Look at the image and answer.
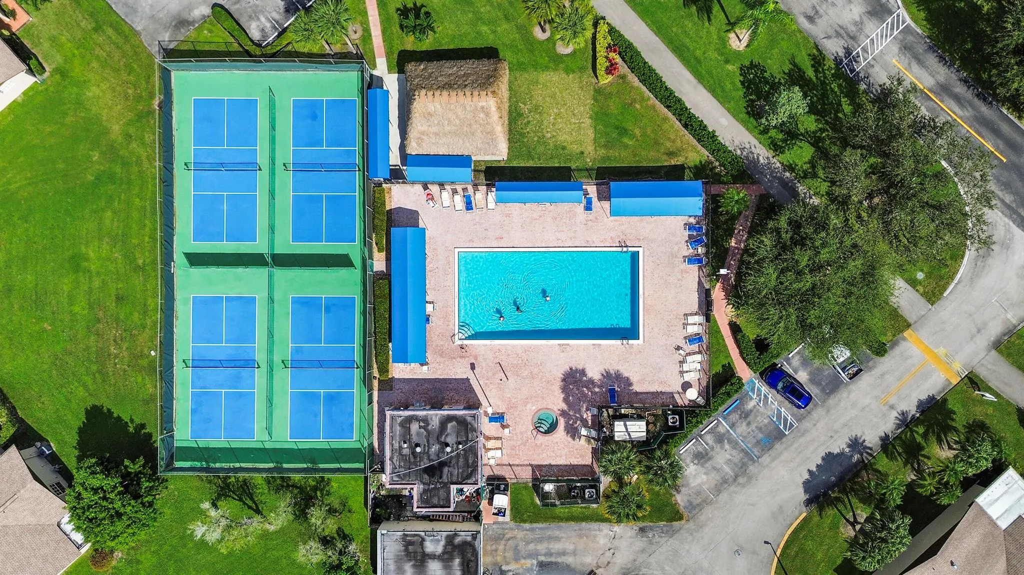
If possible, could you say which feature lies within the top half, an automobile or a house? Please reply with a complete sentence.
You can see a house within the top half.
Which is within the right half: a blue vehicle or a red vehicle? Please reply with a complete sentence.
The feature located within the right half is a blue vehicle.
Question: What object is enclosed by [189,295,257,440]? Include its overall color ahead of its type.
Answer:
blue sports court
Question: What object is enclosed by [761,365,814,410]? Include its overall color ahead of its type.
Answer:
blue car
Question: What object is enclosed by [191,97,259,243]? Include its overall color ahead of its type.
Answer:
blue sports court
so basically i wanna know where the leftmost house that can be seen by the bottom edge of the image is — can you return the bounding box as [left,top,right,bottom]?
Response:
[0,444,94,575]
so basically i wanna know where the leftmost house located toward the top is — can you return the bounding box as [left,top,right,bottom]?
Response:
[0,37,36,110]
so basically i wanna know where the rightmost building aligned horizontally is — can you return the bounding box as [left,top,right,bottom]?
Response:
[858,494,1024,575]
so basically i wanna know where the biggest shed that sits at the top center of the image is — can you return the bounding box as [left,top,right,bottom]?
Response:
[403,56,512,165]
